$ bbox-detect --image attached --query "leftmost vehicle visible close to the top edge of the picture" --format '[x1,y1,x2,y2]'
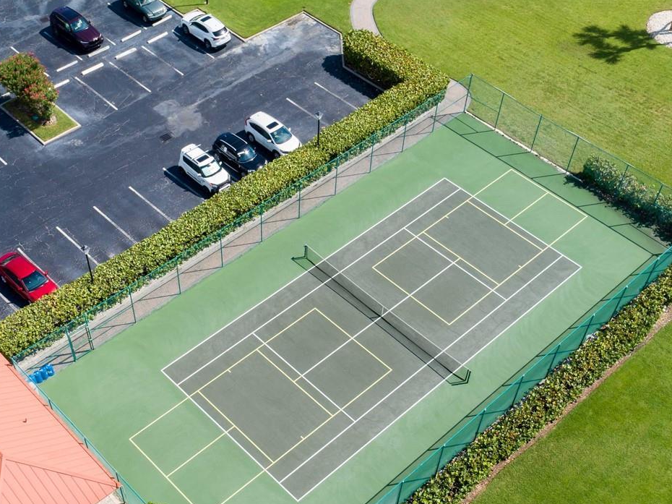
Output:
[47,7,98,52]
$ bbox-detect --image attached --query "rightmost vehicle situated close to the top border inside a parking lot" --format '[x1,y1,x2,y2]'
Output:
[175,14,229,51]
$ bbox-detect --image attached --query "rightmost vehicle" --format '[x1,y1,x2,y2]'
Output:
[244,110,303,158]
